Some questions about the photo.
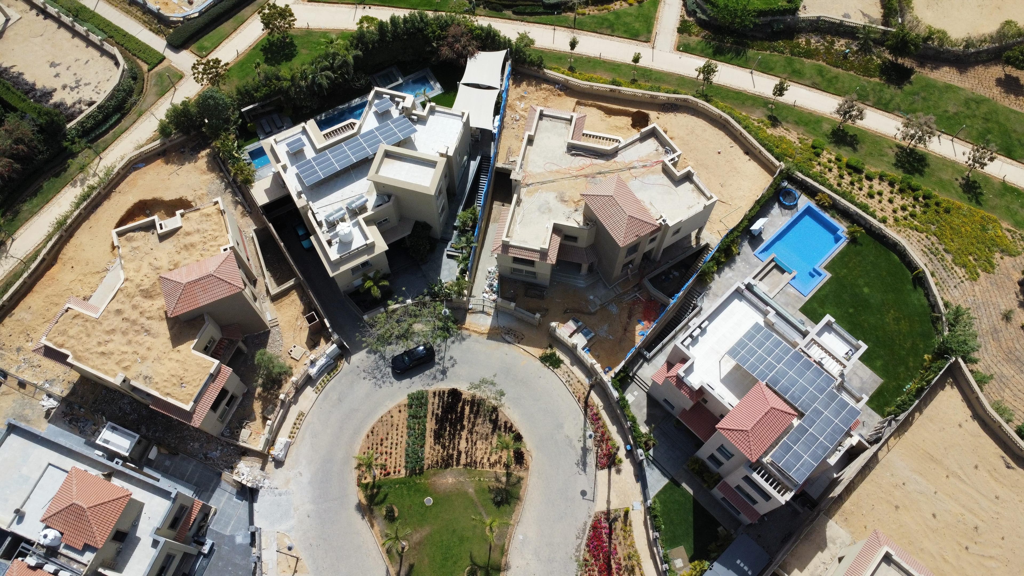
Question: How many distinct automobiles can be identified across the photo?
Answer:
2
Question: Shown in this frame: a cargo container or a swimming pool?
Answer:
swimming pool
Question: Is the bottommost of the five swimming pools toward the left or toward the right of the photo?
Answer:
right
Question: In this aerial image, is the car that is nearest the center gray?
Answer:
No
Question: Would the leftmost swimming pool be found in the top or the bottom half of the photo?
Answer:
top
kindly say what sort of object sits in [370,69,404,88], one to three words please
swimming pool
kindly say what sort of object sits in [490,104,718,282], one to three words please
house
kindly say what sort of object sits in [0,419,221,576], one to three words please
house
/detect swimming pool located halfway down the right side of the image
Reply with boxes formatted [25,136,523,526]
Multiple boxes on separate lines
[757,203,847,296]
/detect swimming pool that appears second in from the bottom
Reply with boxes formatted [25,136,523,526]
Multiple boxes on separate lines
[243,143,276,174]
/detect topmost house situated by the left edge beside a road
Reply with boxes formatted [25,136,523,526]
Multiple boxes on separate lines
[27,197,265,434]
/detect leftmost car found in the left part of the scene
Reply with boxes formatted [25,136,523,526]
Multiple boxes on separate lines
[290,219,317,256]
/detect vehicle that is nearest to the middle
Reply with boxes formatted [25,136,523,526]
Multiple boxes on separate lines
[389,341,439,377]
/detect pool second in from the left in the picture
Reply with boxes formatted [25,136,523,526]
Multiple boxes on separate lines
[315,95,372,135]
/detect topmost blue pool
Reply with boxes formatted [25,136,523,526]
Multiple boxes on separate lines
[382,71,441,99]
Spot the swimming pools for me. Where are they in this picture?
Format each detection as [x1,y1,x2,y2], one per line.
[757,203,847,296]
[382,71,441,99]
[243,143,276,174]
[315,95,372,135]
[370,69,404,88]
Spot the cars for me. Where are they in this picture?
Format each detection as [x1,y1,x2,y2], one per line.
[290,219,317,256]
[389,341,439,377]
